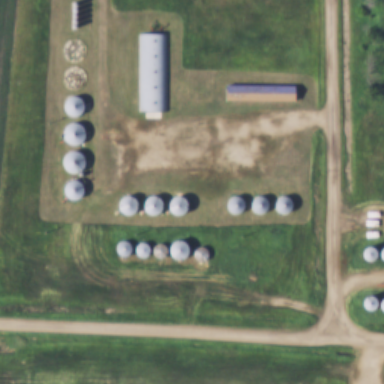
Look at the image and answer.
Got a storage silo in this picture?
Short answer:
Yes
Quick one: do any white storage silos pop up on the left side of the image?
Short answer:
Yes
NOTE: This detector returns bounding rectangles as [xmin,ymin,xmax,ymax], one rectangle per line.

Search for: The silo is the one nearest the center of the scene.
[170,192,190,217]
